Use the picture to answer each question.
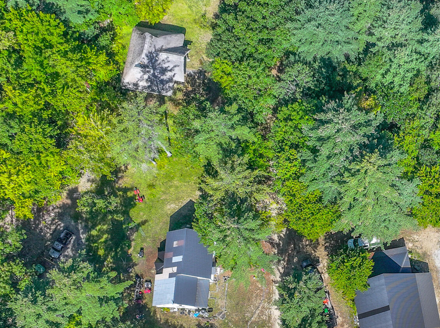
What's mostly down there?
trees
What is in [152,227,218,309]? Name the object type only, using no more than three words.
house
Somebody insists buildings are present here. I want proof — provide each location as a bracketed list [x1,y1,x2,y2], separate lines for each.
[121,27,194,98]
[152,227,218,309]
[352,272,440,328]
